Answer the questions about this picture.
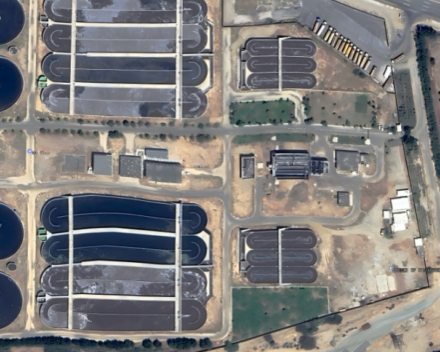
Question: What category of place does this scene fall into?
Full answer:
The area seen from above is an industrial area.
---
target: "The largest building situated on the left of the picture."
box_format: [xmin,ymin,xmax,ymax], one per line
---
[144,160,182,184]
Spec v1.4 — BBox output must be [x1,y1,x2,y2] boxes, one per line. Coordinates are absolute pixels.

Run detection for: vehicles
[360,52,369,69]
[324,27,333,41]
[349,46,357,60]
[339,38,347,51]
[353,48,361,63]
[345,43,354,57]
[314,17,320,33]
[364,56,373,71]
[328,29,337,43]
[335,35,344,49]
[370,66,378,76]
[356,51,364,66]
[392,53,405,63]
[317,21,327,35]
[331,33,339,46]
[342,39,350,54]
